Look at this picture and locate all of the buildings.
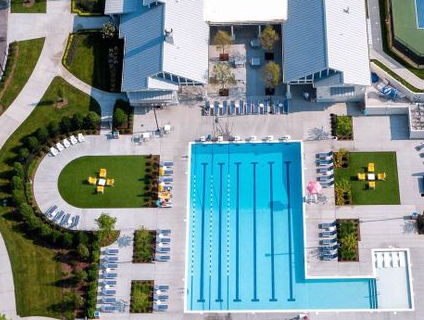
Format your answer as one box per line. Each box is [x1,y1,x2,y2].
[284,0,371,103]
[104,0,210,106]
